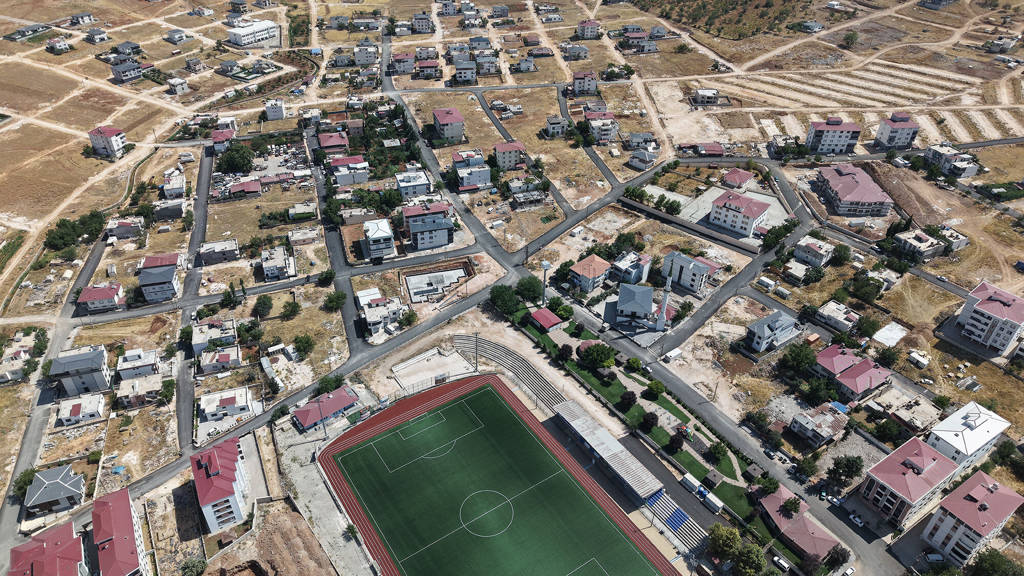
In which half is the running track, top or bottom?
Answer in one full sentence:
It is in the bottom half that the running track appears.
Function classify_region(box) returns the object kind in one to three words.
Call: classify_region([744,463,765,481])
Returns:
gazebo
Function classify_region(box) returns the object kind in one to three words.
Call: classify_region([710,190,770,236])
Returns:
building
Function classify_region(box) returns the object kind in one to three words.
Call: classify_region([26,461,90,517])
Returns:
house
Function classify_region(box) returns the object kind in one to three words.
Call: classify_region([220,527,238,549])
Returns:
gazebo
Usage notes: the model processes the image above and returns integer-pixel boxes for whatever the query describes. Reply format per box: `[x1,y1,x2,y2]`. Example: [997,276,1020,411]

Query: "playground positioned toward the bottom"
[671,424,714,462]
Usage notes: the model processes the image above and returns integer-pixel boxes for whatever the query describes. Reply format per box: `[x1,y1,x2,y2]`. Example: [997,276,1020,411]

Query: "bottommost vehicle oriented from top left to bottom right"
[772,555,790,572]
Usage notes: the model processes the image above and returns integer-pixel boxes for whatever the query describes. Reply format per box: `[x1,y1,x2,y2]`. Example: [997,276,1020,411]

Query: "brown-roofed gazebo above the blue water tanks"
[704,469,725,488]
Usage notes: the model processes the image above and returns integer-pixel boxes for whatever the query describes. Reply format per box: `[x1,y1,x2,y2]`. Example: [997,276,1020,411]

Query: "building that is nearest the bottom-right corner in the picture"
[923,471,1024,564]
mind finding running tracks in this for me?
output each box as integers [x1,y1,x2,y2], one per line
[317,375,686,576]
